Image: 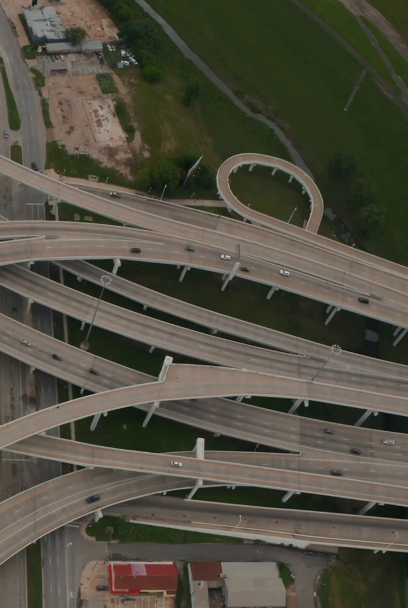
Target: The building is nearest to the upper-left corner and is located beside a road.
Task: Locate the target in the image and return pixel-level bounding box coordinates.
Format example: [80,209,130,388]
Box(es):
[21,0,66,46]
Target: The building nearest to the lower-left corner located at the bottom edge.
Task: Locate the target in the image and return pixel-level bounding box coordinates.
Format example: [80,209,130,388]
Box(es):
[105,561,178,597]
